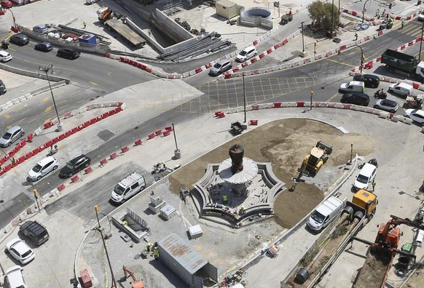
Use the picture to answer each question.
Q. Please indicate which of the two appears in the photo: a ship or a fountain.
fountain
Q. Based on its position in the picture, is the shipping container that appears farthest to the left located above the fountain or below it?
below it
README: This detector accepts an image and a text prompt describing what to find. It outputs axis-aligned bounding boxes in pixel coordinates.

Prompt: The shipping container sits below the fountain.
[155,229,220,288]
